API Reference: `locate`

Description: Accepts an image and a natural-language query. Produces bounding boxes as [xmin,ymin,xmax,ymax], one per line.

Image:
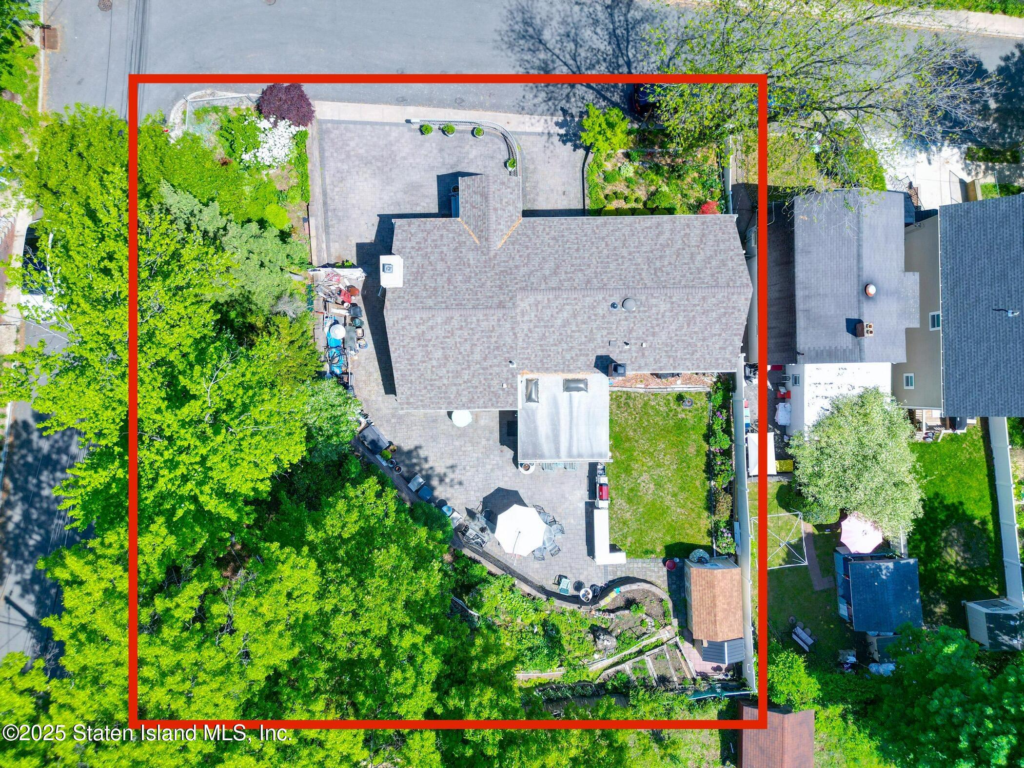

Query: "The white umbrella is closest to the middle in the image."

[495,504,546,557]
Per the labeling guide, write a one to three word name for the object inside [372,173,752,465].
house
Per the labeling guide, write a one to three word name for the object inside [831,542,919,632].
shed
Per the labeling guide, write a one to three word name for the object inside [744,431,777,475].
tent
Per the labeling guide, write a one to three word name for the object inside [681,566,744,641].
shed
